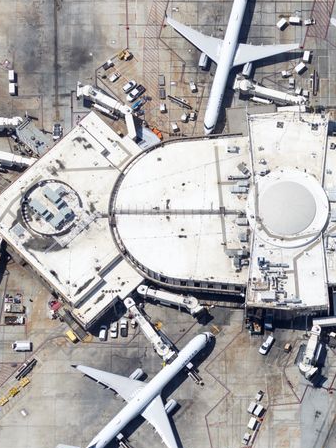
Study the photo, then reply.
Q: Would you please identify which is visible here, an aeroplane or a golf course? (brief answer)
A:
aeroplane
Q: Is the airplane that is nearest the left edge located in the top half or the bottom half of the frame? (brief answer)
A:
bottom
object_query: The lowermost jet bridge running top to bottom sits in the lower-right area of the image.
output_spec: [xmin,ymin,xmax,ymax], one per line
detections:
[297,324,322,379]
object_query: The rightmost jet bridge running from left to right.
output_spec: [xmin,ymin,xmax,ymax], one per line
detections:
[231,75,310,110]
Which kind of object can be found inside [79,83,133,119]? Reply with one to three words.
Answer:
jet bridge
